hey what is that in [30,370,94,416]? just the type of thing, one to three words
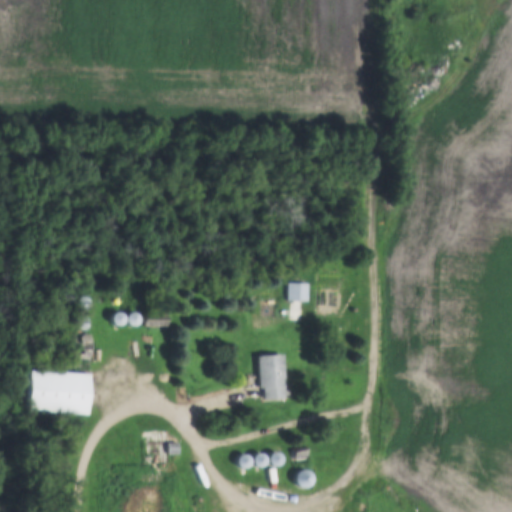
barn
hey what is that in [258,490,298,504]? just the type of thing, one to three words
vehicle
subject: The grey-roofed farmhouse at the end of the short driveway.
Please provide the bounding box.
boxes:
[258,354,290,401]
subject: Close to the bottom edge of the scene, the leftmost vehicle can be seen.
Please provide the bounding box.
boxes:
[196,462,210,490]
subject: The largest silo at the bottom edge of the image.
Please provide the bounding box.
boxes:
[297,469,316,489]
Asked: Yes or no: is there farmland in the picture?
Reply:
Yes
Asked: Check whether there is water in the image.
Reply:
No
